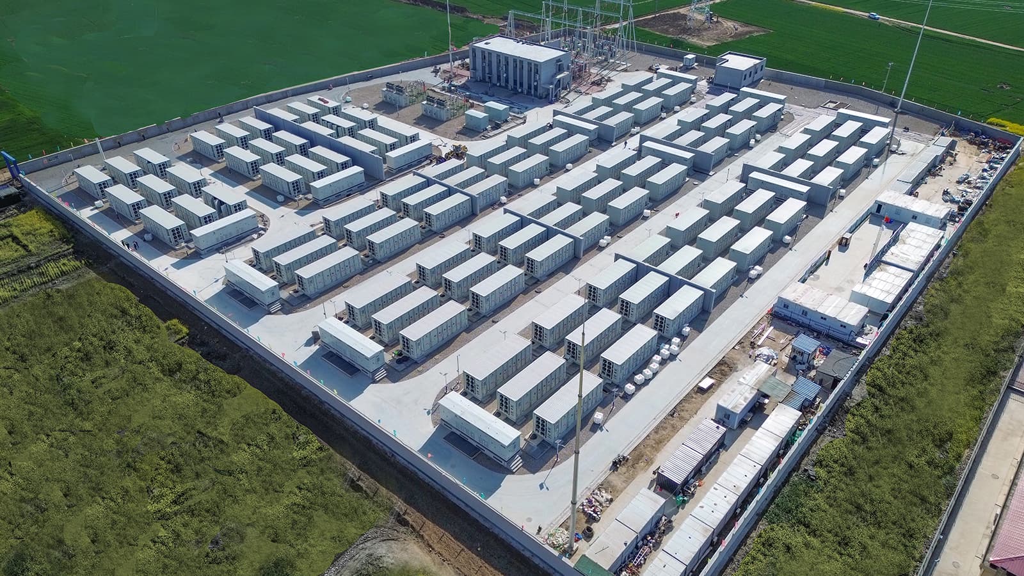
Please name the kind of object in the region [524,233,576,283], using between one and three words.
shipping container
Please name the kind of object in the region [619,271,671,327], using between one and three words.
shipping container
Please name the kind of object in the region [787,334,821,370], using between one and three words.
shed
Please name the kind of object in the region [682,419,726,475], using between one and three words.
building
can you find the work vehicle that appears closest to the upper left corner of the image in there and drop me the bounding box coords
[433,138,464,163]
